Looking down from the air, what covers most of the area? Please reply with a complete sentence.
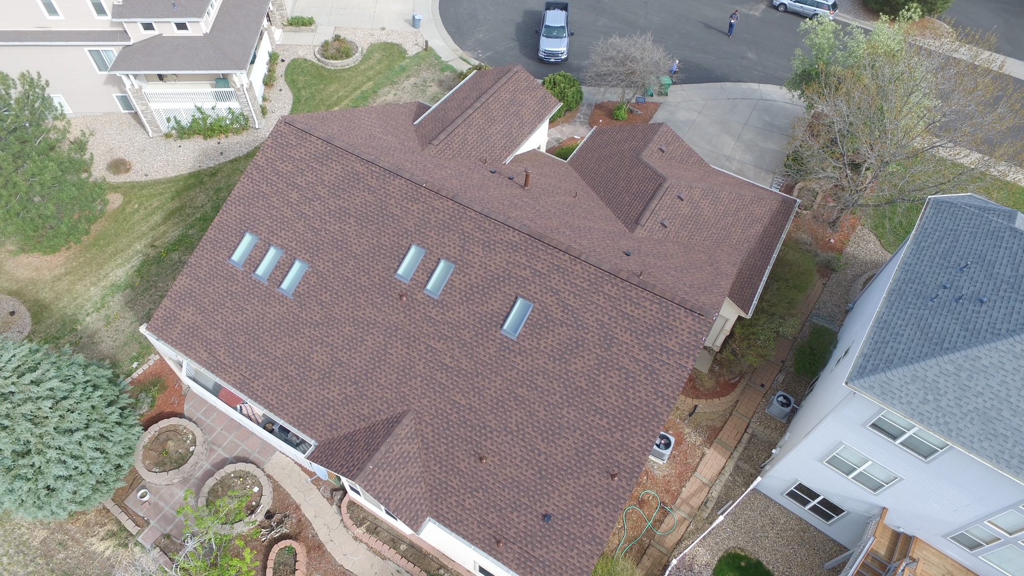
The scene is dominated by buildings.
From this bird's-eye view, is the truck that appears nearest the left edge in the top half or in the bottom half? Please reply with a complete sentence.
Seen from above, the truck that appears nearest the left edge lies in the top half of the view.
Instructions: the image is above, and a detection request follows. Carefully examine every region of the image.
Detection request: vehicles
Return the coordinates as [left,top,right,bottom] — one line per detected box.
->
[772,0,838,21]
[535,0,577,59]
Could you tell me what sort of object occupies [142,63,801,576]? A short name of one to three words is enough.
house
